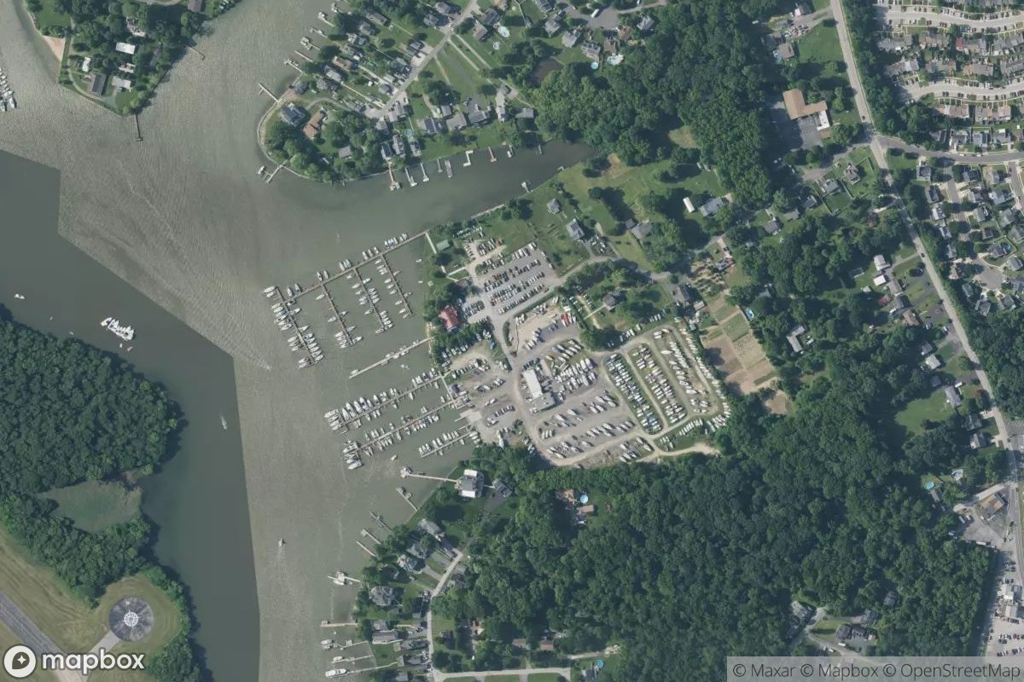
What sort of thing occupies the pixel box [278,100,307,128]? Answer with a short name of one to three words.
house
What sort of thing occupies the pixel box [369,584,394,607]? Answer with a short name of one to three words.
house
